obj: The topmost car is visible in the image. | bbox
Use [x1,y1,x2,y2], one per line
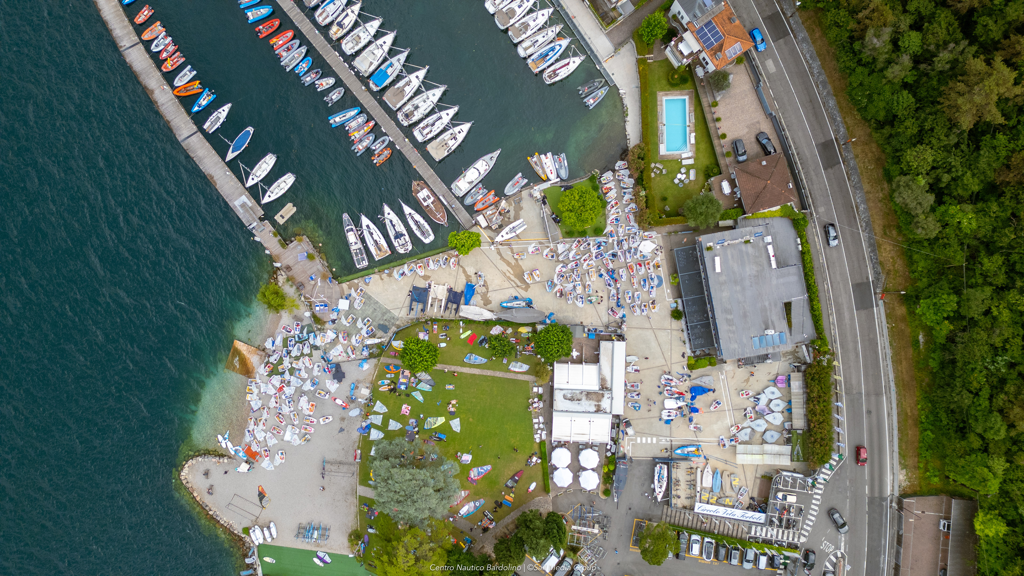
[748,27,766,53]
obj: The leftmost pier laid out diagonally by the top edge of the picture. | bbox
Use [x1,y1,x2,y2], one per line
[93,0,264,227]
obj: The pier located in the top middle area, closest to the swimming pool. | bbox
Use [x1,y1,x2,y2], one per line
[551,0,614,86]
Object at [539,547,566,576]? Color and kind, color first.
white vehicle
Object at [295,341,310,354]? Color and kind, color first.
white boat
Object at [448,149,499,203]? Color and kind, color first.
white boat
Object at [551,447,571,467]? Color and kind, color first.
white umbrella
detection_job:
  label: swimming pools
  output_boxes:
[657,90,695,160]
